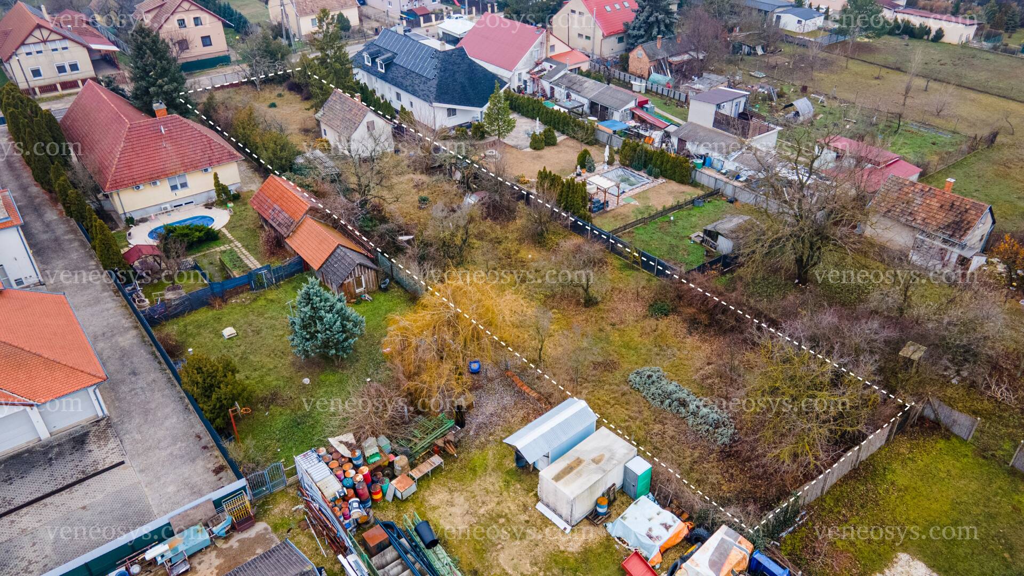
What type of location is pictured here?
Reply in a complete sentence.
The area seen from above is a residential area.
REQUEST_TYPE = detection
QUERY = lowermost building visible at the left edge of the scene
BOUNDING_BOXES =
[0,293,119,465]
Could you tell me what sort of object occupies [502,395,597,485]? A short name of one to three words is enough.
shed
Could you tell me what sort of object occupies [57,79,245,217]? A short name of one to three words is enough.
house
